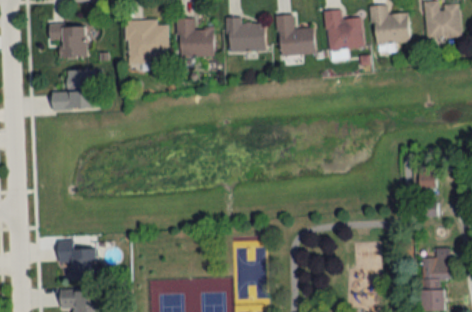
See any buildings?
Yes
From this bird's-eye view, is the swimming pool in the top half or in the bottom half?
bottom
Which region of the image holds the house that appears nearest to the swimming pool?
bottom left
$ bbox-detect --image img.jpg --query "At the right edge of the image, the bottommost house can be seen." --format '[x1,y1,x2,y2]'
[422,248,452,312]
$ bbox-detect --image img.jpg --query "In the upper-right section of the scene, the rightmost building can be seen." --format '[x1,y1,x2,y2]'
[424,0,463,38]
